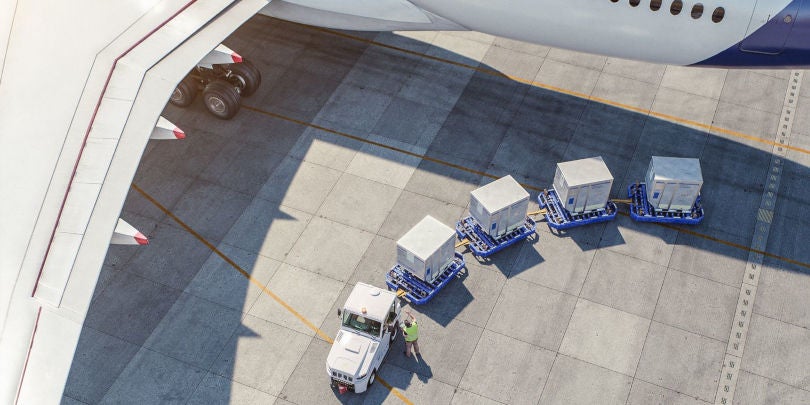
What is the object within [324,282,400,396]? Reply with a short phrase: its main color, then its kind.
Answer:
white work vehicle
